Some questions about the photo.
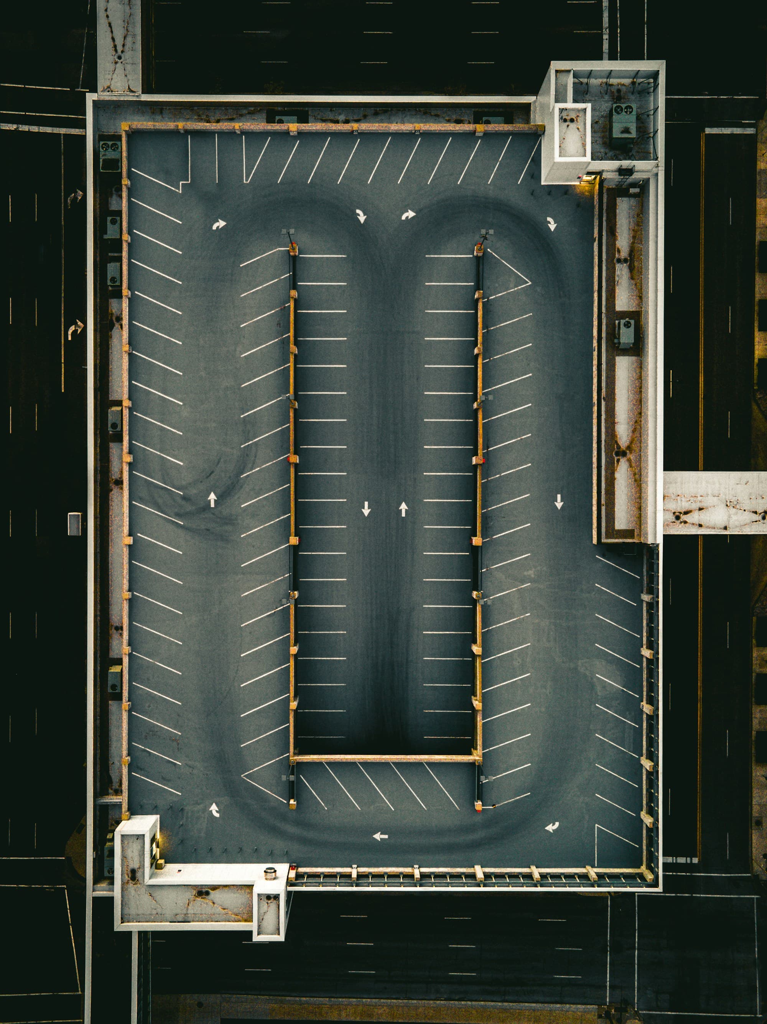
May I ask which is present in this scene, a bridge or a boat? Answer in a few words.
bridge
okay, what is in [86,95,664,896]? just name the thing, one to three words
building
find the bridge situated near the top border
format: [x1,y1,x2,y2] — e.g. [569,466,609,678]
[97,0,150,101]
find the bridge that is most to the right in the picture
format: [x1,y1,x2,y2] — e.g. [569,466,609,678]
[664,472,767,534]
